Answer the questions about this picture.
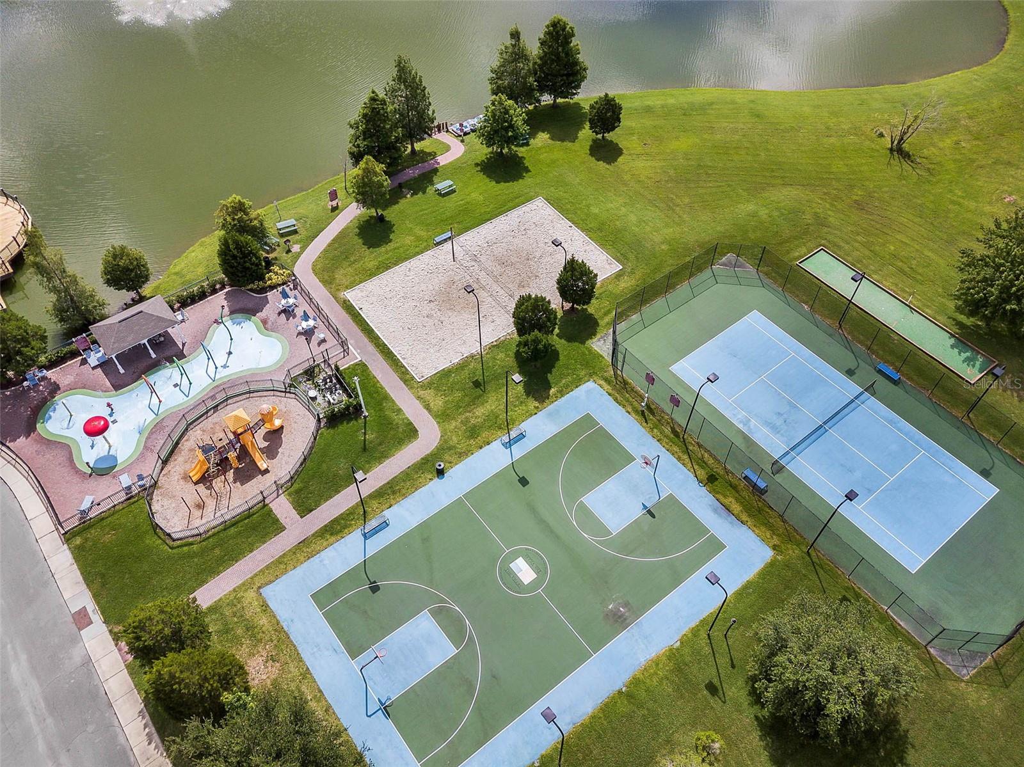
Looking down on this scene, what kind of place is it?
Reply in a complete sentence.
What you see here is a sports ground.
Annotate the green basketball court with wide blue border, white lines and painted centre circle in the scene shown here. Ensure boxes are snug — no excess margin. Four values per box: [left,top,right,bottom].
[262,382,773,767]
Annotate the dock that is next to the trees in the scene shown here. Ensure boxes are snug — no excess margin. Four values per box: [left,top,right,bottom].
[0,190,34,312]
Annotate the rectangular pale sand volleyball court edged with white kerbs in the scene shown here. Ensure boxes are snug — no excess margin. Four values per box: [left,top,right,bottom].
[344,196,623,382]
